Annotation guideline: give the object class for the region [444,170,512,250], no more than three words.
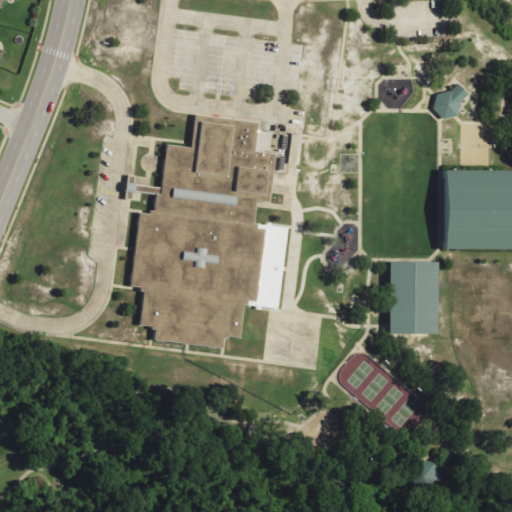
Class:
building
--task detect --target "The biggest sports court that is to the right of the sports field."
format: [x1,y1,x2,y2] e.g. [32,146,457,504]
[460,122,496,166]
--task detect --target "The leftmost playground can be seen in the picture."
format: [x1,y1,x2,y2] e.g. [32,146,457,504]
[326,224,358,266]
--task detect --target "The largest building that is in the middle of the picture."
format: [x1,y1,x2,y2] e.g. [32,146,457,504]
[126,115,277,348]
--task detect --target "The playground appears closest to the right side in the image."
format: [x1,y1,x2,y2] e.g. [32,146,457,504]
[378,80,414,108]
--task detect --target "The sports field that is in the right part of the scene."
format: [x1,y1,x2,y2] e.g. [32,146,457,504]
[364,114,438,258]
